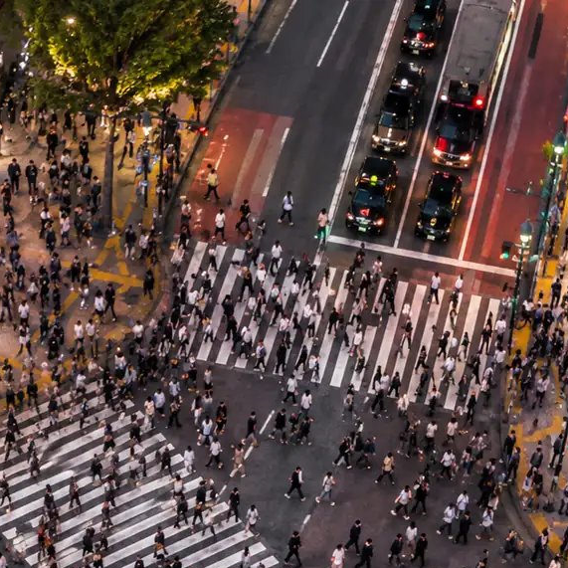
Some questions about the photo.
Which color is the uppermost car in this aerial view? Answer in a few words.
black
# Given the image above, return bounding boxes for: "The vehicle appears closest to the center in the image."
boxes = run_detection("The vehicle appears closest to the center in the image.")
[351,159,404,233]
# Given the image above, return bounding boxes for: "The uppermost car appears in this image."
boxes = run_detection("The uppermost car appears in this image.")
[404,0,450,55]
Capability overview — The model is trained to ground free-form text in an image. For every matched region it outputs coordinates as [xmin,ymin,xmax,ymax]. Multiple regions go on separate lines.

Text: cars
[436,98,483,167]
[404,0,450,55]
[377,79,427,152]
[422,168,474,241]
[351,159,404,233]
